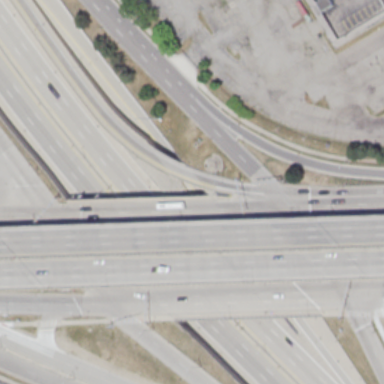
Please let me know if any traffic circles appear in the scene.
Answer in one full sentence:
No, I can't see a single traffic circle in this photo.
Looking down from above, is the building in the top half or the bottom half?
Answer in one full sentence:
Seen from above, the building lies in the top half of the view.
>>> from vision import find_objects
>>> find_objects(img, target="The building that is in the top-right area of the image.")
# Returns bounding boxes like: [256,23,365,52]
[316,0,384,38]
